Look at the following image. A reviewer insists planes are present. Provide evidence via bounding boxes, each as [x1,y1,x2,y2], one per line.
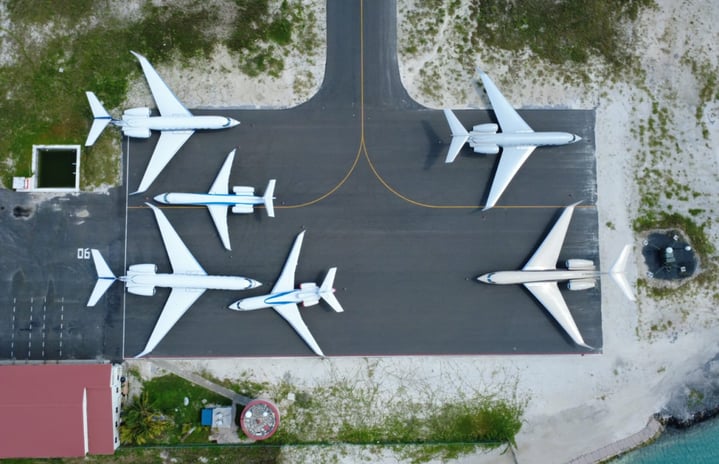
[88,203,263,358]
[228,231,344,358]
[445,64,583,210]
[154,147,276,249]
[477,202,633,348]
[84,48,239,194]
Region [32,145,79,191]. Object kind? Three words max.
water tank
